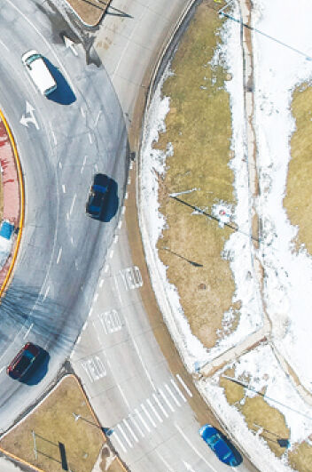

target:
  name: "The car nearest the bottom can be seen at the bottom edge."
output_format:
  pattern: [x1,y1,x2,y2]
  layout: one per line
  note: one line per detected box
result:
[202,425,239,468]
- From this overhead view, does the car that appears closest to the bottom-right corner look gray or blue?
blue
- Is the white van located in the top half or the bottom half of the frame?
top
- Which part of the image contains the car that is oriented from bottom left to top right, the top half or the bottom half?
bottom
